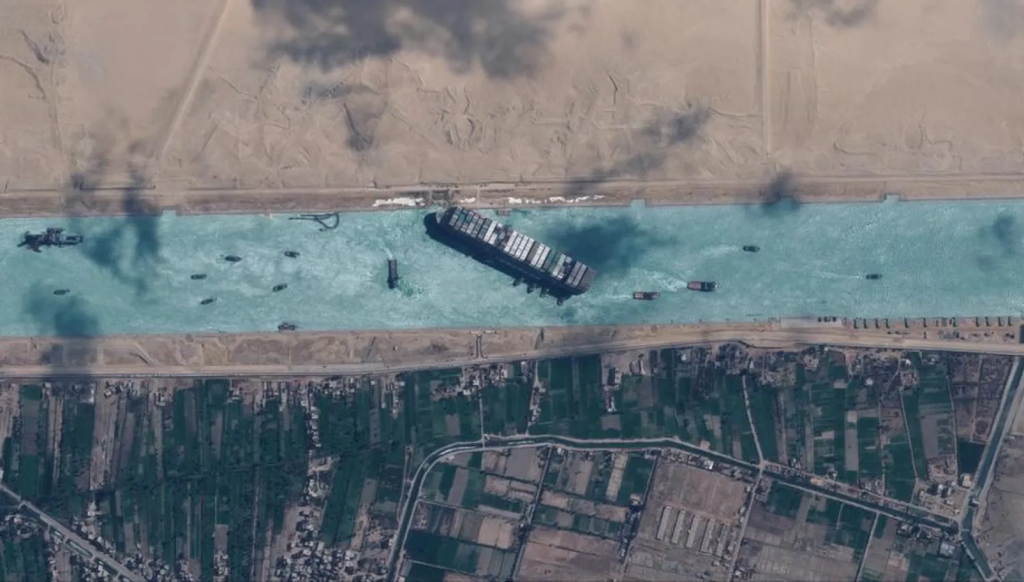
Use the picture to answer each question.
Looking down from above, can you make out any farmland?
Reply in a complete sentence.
Yes, there's farmland in this view.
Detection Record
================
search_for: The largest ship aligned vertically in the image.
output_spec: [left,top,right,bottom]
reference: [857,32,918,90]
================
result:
[389,257,401,287]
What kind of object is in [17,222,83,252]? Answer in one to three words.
ship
